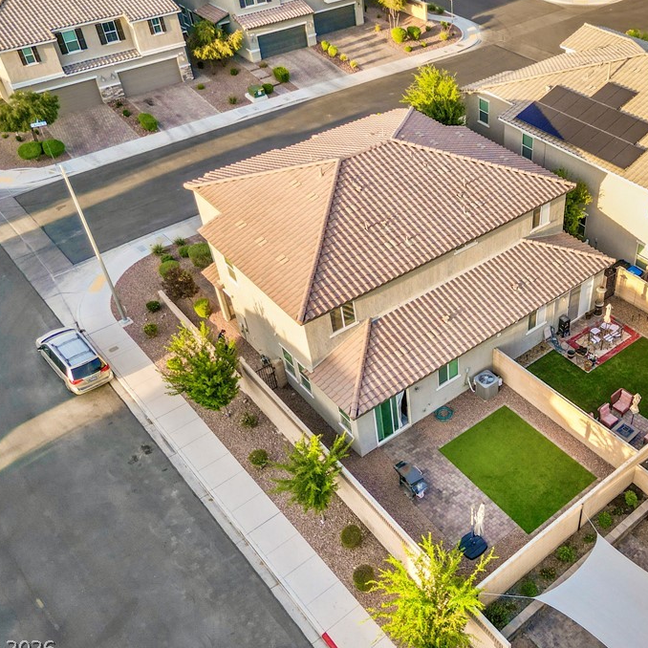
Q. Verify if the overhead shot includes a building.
Yes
